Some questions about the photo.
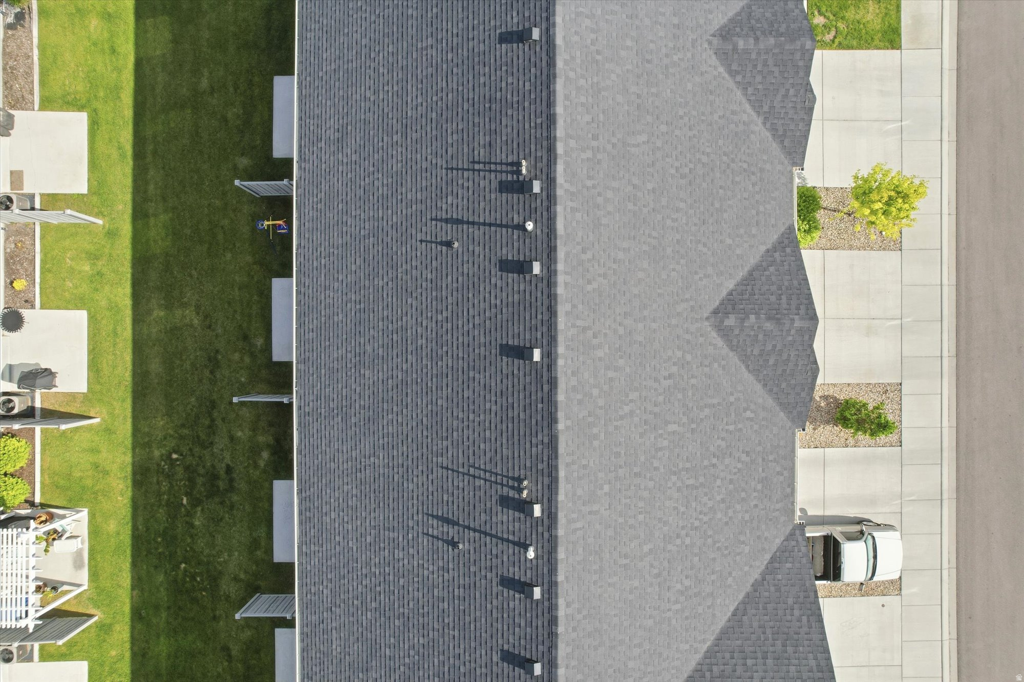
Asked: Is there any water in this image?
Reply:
No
